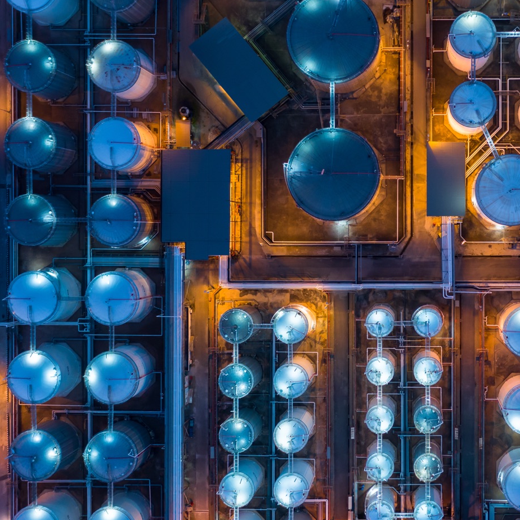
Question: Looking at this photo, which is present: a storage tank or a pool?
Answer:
storage tank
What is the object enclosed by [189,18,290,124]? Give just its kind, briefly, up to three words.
building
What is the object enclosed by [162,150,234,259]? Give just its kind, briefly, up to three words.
building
